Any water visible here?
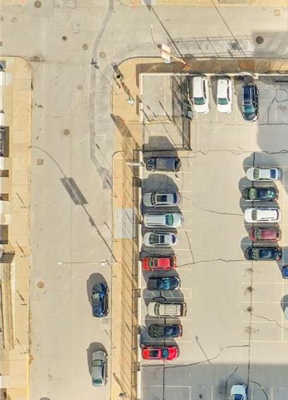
No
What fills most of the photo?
paved ground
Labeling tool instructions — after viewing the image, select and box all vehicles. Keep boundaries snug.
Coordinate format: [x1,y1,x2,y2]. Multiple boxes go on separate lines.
[246,245,282,261]
[145,212,181,227]
[146,275,182,290]
[215,76,235,113]
[145,231,178,247]
[243,185,279,201]
[148,323,182,338]
[142,254,177,270]
[145,155,181,172]
[250,227,281,241]
[247,206,280,222]
[191,75,211,113]
[90,350,109,385]
[90,282,110,317]
[150,301,185,317]
[143,346,178,361]
[247,166,283,181]
[230,384,247,400]
[241,84,260,120]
